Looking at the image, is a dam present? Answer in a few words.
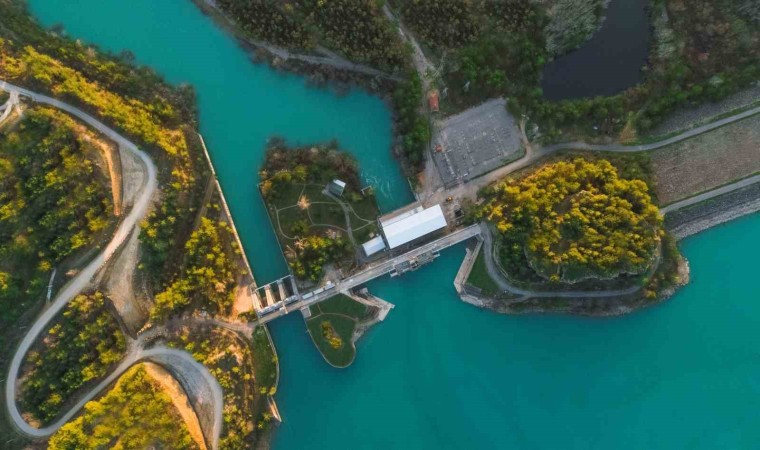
Yes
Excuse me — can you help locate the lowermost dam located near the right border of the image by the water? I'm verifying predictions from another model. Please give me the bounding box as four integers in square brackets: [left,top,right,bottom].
[668,184,760,241]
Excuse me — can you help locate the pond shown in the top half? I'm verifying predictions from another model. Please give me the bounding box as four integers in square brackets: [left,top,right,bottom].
[541,0,652,100]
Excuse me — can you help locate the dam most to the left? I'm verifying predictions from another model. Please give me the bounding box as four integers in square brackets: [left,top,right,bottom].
[247,224,483,326]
